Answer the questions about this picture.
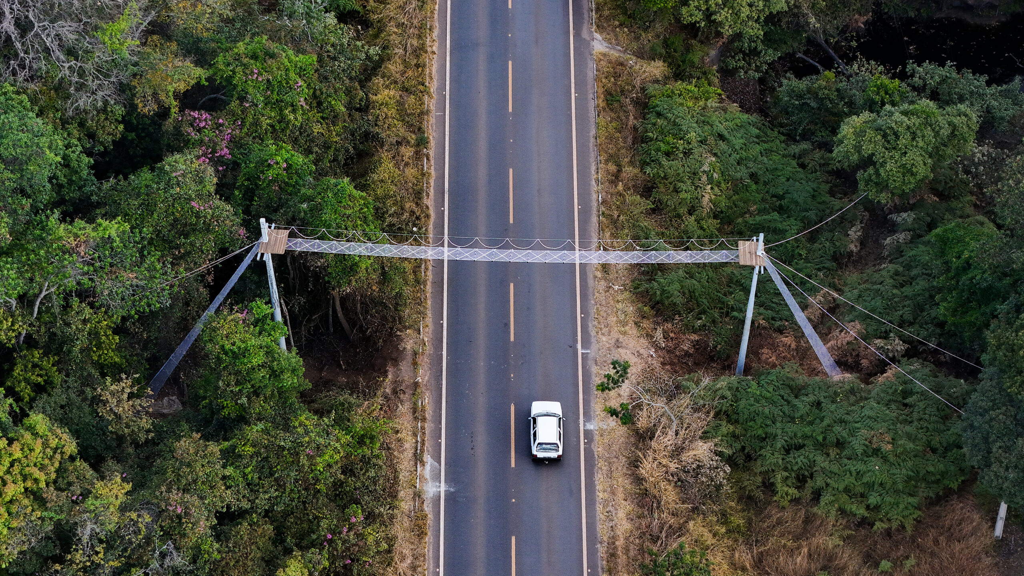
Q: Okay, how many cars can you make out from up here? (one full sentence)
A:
Only 1 car is visible.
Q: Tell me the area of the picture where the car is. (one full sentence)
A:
The car is located in the bottom region of the scene.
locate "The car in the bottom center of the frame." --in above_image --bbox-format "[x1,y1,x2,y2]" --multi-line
[528,401,566,462]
